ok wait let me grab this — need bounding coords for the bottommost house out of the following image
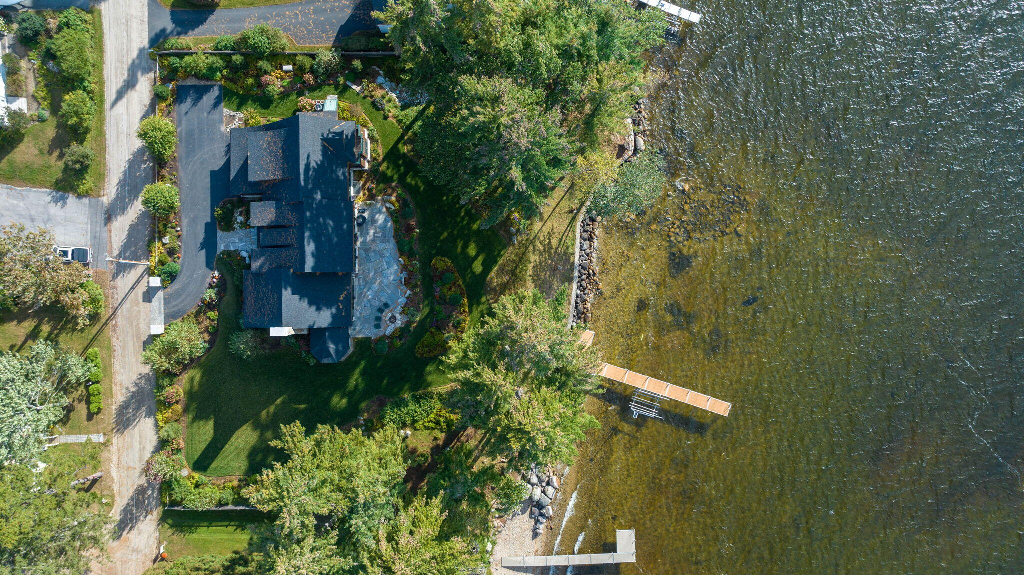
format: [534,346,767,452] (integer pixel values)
[230,110,374,366]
